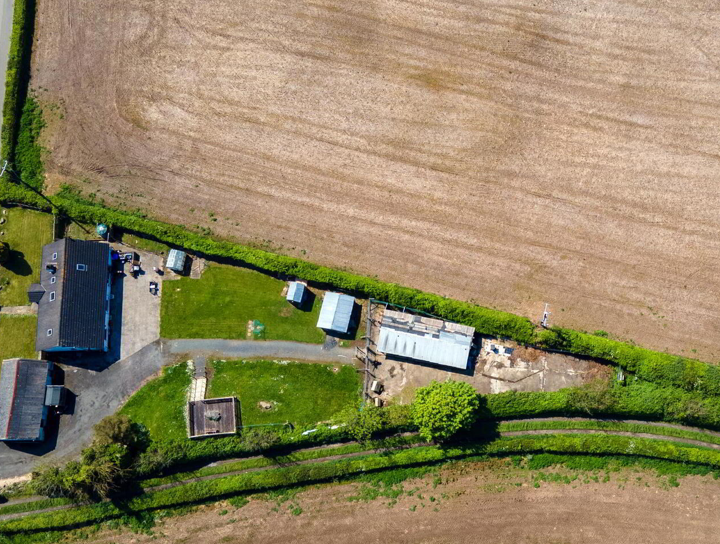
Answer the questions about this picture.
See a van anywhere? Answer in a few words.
No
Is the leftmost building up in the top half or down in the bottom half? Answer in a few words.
bottom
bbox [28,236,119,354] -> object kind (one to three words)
house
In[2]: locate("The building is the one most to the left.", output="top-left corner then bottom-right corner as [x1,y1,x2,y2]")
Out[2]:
[0,359,57,440]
